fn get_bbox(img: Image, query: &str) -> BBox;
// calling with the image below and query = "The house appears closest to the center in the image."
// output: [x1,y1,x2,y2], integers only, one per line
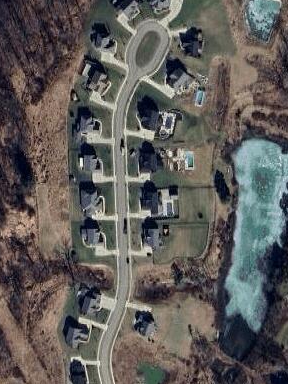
[139,186,161,214]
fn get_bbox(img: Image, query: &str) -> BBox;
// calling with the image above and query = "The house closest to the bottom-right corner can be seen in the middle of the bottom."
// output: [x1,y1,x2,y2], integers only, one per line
[132,313,158,337]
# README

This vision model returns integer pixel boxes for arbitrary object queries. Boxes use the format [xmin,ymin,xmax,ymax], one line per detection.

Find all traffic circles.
[128,20,170,75]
